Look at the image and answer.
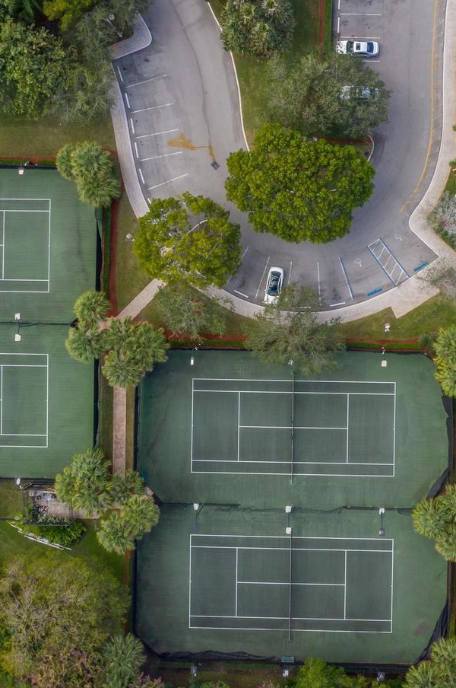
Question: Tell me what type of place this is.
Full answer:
What you see here is a sports ground.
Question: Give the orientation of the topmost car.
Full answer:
What the image shows is the topmost car lying from left to right.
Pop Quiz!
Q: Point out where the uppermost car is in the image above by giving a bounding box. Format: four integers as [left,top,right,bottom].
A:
[337,38,379,58]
